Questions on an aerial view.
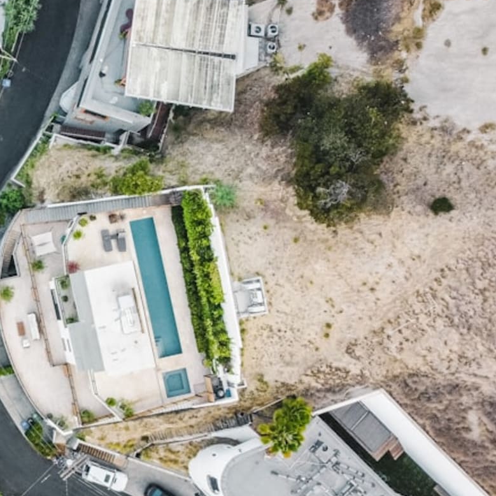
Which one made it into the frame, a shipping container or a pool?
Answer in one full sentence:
This aerial view contains a pool.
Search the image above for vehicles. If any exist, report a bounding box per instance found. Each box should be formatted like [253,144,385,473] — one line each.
[79,460,133,495]
[141,482,176,496]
